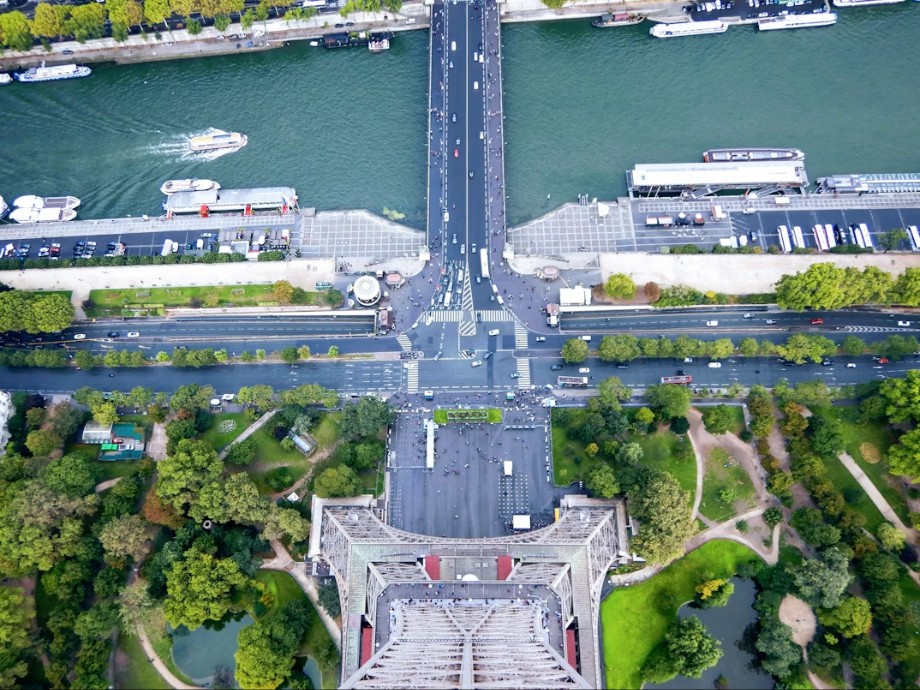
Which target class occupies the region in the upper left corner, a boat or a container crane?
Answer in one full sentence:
Visible in the upper left corner is a boat.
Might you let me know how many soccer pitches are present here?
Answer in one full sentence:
The count of soccer pitches is 0.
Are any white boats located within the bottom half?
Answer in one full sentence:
No, the scene shows no white boat within the bottom half.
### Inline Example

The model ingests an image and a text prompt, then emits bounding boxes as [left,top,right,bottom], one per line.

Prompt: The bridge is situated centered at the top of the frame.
[427,3,506,264]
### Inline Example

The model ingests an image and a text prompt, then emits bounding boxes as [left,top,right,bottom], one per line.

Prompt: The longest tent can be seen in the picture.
[422,414,438,473]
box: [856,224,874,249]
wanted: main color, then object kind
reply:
white vehicle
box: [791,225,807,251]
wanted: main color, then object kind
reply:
white vehicle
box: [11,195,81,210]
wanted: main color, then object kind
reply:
white boat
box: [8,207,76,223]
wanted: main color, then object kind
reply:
white boat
